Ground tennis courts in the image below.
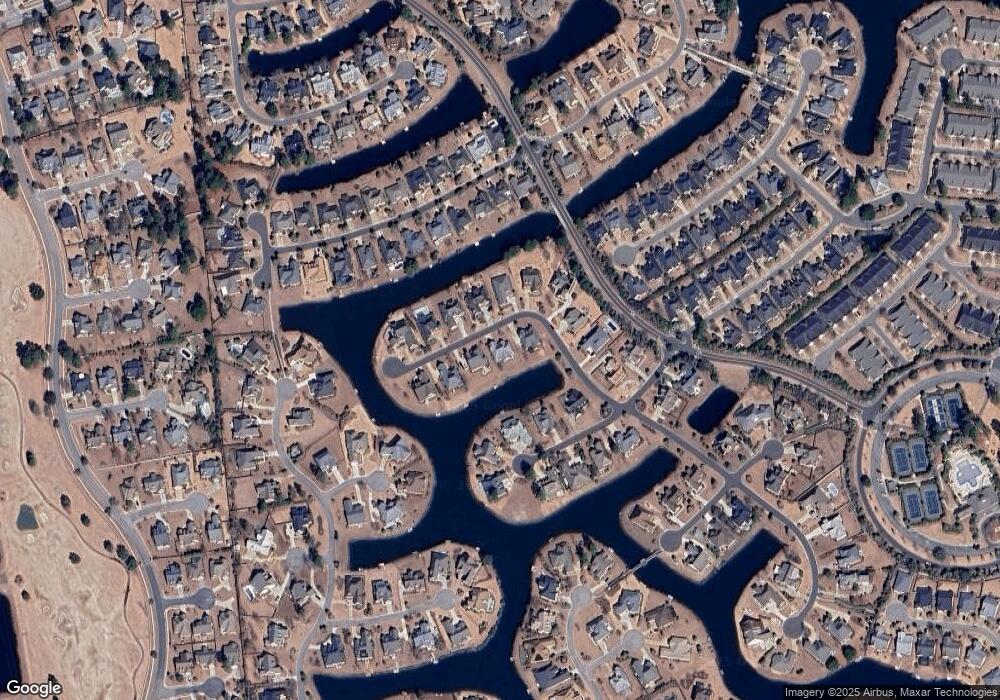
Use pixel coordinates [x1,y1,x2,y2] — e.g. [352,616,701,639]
[925,394,947,427]
[920,480,945,519]
[900,484,926,524]
[908,437,932,473]
[942,390,965,426]
[891,440,915,476]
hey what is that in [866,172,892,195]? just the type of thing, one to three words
building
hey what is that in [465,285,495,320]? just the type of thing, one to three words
house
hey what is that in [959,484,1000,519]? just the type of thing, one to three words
building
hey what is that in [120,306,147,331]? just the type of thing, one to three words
house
